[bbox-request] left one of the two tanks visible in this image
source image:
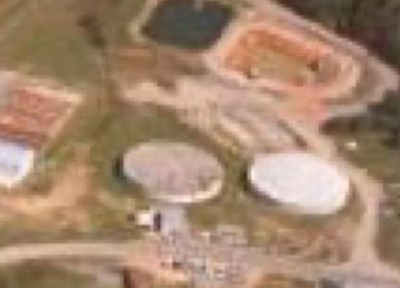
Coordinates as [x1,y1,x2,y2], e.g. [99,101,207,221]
[122,140,225,206]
